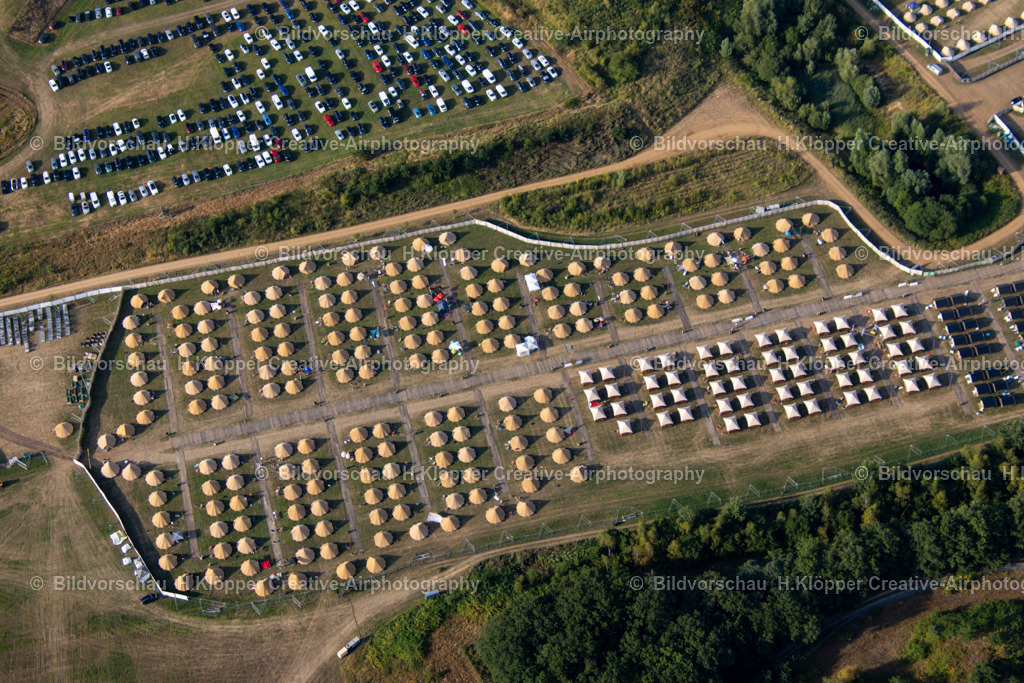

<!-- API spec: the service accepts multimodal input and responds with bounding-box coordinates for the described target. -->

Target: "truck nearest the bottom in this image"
[336,635,362,658]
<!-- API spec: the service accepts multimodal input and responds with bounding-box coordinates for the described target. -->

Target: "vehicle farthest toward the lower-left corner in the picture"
[139,591,159,604]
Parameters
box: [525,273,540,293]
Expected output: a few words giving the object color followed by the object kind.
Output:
white gazebo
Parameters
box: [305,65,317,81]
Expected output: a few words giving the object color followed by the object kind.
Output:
white vehicle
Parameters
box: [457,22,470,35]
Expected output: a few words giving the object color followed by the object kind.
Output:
red vehicle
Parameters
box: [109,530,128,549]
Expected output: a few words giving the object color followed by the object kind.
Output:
white gazebo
